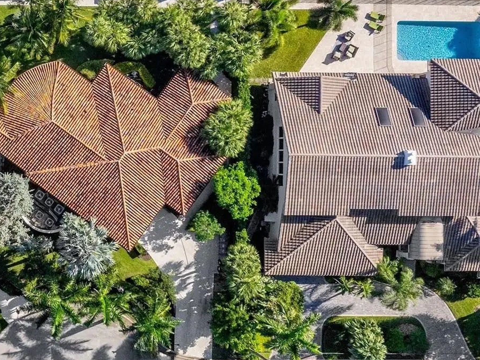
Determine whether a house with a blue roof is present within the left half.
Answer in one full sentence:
No, there is no house with a blue roof within the left half.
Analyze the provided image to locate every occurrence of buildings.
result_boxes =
[258,59,480,275]
[0,61,233,251]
